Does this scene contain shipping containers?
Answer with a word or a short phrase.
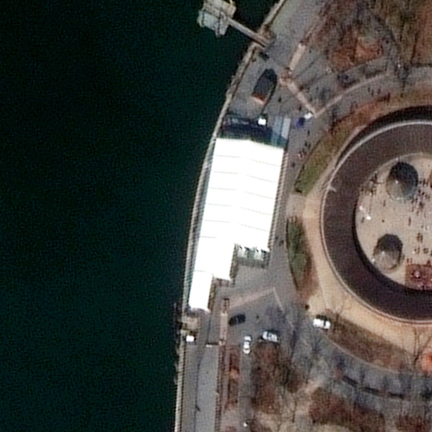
No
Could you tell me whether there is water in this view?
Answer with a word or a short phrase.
Yes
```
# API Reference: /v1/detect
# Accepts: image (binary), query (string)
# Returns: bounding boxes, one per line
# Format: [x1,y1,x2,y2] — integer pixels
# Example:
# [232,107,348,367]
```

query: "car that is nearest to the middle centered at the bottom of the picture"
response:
[226,313,246,327]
